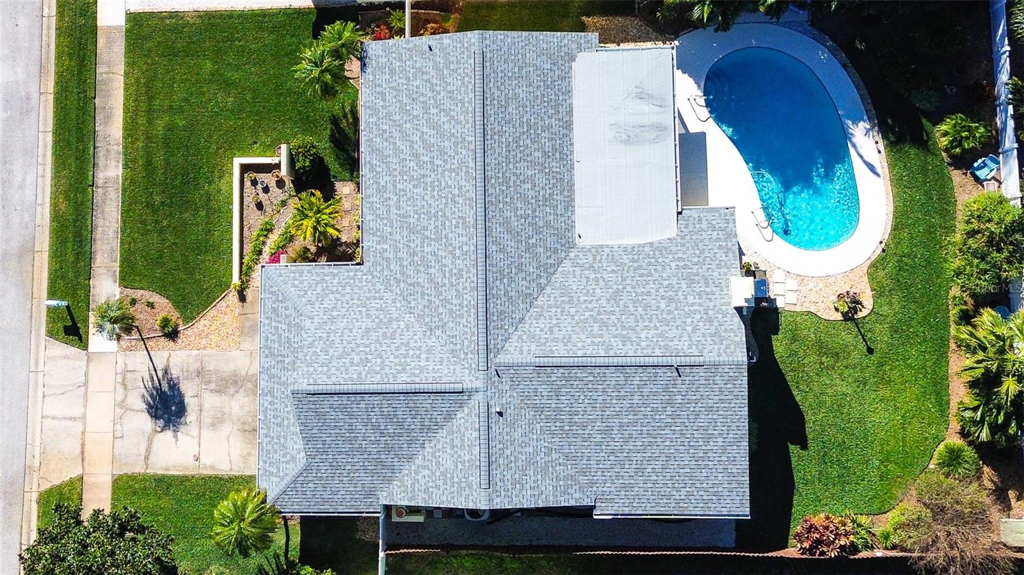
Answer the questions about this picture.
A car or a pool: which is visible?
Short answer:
pool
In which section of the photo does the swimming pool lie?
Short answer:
top right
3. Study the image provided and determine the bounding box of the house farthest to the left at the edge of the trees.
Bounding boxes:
[254,30,754,520]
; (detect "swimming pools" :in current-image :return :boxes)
[701,43,863,253]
